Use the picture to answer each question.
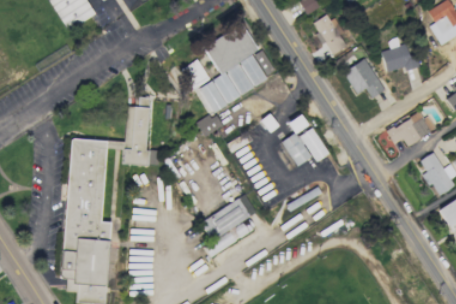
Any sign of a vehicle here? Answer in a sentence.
Yes, the picture does show a vehicle.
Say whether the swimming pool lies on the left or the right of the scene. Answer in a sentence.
It is on the right.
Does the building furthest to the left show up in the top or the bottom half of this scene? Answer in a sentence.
You can find the building furthest to the left in the top half.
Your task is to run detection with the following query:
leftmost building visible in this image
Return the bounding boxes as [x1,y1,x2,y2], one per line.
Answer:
[50,0,96,28]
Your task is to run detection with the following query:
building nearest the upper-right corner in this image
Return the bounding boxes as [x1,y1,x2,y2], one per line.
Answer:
[430,0,456,46]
